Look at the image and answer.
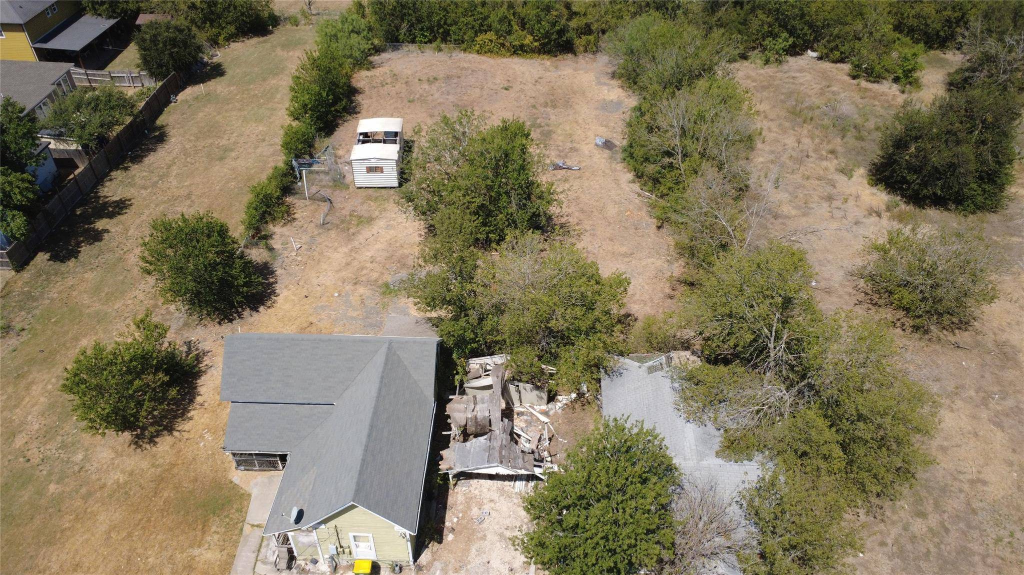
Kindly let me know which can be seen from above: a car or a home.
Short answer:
home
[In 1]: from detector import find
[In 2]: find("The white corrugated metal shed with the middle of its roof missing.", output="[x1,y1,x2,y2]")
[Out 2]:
[350,117,406,188]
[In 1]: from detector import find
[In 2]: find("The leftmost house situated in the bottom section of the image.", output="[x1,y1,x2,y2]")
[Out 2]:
[218,337,447,568]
